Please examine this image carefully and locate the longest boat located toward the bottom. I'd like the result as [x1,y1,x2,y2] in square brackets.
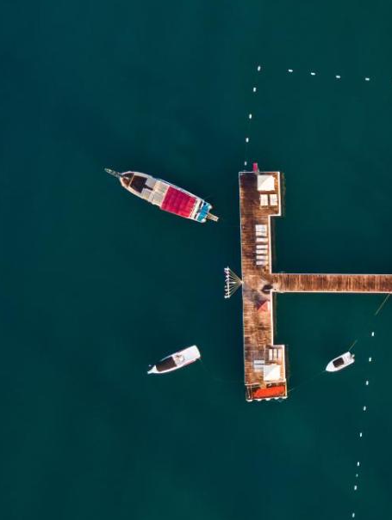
[144,345,201,375]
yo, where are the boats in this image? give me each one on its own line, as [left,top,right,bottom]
[325,353,356,372]
[144,345,201,375]
[106,169,219,224]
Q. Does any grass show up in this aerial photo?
No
